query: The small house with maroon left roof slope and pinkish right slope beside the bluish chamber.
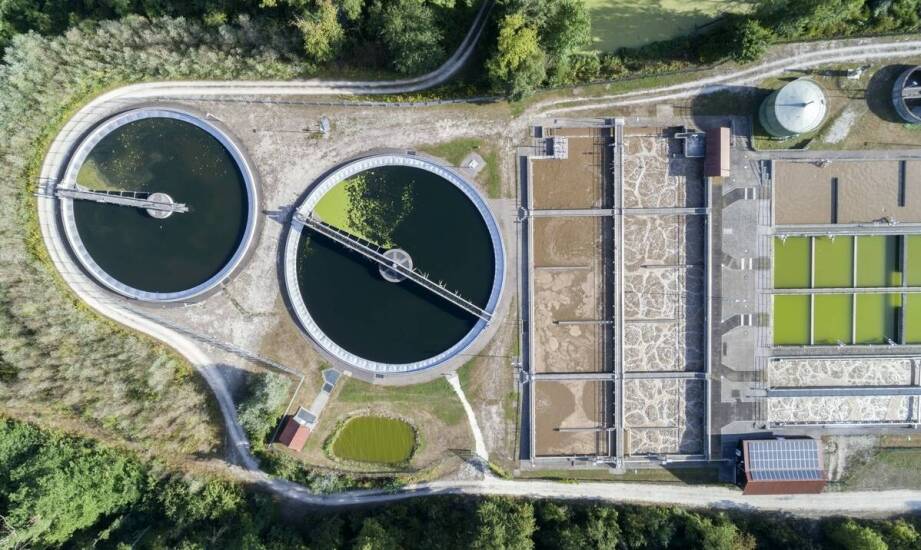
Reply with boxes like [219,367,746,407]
[705,125,729,177]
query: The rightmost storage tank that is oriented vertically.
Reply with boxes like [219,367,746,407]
[891,66,921,128]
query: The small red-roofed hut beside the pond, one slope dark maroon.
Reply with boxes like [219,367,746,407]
[279,417,311,451]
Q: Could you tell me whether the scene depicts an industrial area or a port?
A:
industrial area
